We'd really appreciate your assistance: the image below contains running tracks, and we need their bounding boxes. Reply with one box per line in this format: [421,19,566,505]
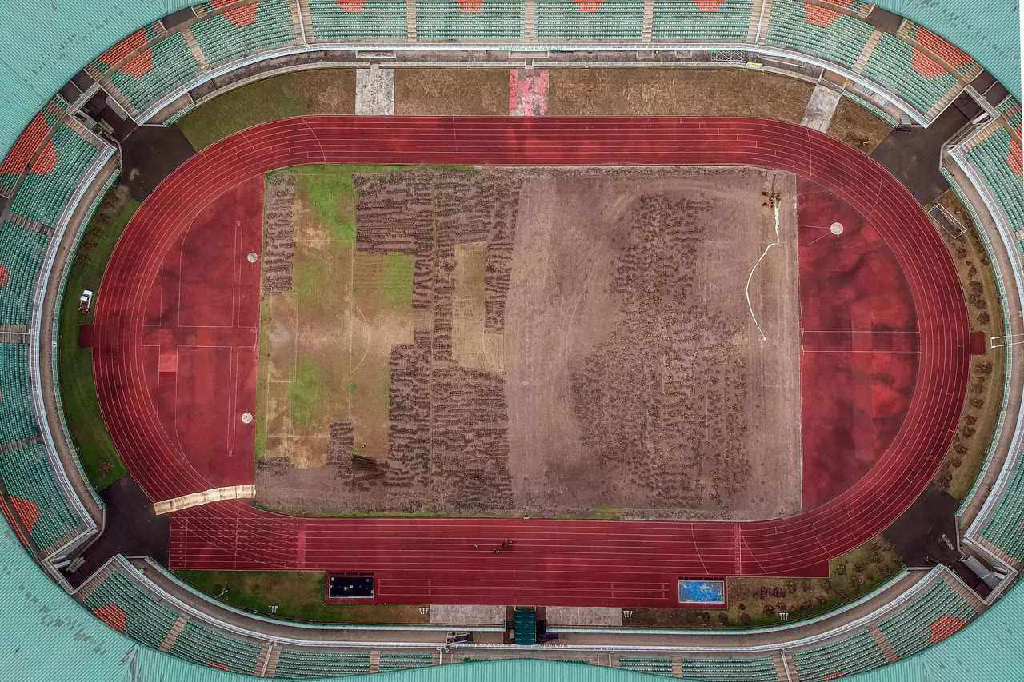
[78,113,985,610]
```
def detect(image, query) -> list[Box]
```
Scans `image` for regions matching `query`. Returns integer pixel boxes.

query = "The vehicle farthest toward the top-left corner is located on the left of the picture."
[77,289,93,312]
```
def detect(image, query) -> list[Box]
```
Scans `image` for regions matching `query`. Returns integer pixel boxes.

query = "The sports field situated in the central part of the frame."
[255,163,800,525]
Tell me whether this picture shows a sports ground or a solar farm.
sports ground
